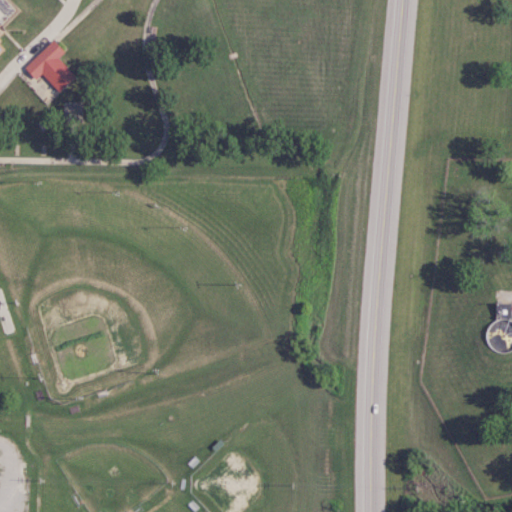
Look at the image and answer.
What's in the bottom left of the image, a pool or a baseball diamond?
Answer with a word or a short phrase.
baseball diamond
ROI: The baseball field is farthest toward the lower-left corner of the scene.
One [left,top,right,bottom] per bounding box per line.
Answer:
[57,446,169,512]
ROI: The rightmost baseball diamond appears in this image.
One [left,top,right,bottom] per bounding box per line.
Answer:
[192,421,296,512]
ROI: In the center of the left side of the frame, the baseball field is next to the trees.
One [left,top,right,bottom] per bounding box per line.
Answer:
[8,180,263,402]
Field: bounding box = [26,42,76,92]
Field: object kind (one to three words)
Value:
house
